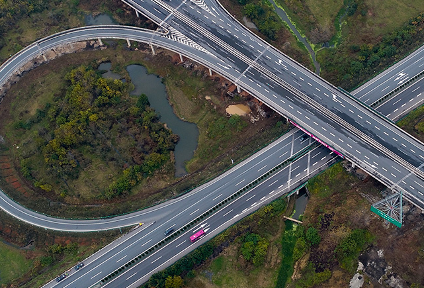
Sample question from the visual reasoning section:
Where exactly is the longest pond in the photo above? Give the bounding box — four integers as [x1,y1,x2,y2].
[128,63,198,176]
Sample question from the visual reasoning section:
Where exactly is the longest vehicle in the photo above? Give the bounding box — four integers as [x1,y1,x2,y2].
[189,229,205,241]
